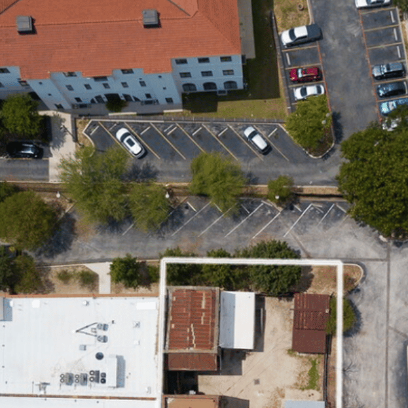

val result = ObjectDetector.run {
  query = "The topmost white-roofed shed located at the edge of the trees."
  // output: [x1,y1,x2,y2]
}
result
[220,291,255,349]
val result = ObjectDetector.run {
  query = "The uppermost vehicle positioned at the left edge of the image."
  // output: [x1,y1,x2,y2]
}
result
[7,142,44,158]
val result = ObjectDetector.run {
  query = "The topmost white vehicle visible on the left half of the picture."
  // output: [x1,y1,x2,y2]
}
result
[115,127,146,160]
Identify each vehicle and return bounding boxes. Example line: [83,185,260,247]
[242,126,271,156]
[370,62,406,81]
[280,26,322,47]
[293,83,326,101]
[115,127,146,160]
[355,0,390,9]
[7,142,44,158]
[289,65,322,84]
[374,80,408,97]
[378,97,408,116]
